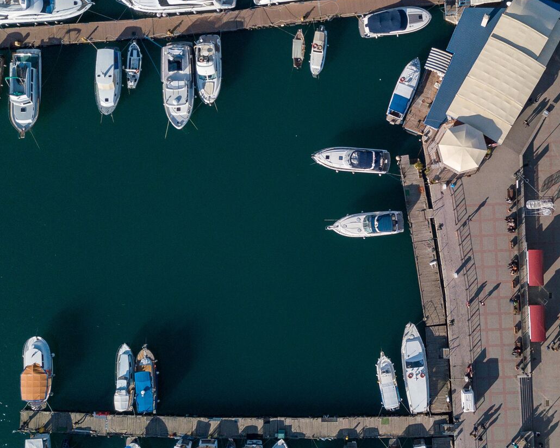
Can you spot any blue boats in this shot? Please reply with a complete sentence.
Yes, looking at the shot, I can spot a blue boat.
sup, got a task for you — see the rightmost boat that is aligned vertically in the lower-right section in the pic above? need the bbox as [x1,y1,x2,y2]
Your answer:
[401,318,431,417]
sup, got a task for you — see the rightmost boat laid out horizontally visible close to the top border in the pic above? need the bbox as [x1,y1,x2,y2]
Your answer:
[355,4,440,38]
